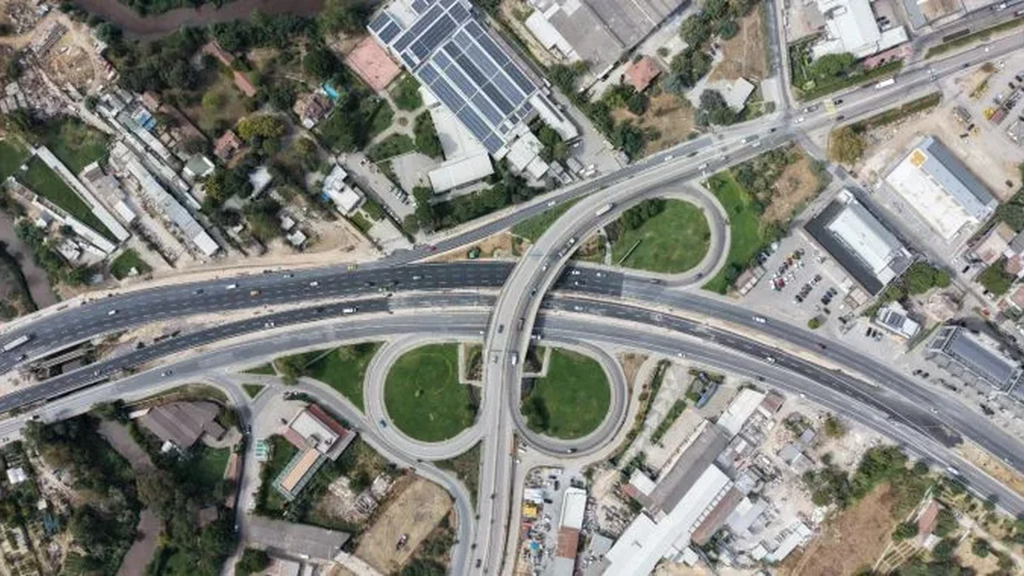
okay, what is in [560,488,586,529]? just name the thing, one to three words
building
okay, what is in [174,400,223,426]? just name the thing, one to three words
house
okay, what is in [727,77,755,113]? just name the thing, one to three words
shed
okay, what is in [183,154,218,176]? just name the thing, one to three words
house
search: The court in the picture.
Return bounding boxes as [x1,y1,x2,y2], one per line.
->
[347,37,400,89]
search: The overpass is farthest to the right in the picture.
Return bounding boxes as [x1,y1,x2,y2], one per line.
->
[467,112,797,576]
